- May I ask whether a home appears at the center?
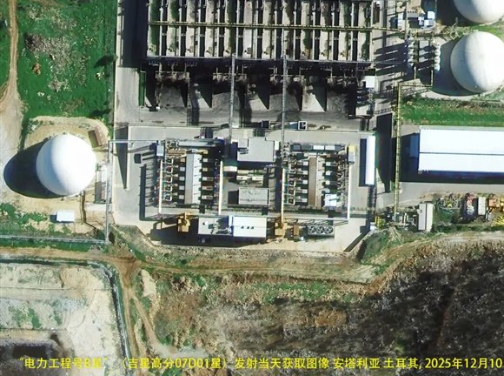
Yes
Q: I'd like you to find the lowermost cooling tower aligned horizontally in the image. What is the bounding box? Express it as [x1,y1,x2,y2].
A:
[307,224,334,237]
